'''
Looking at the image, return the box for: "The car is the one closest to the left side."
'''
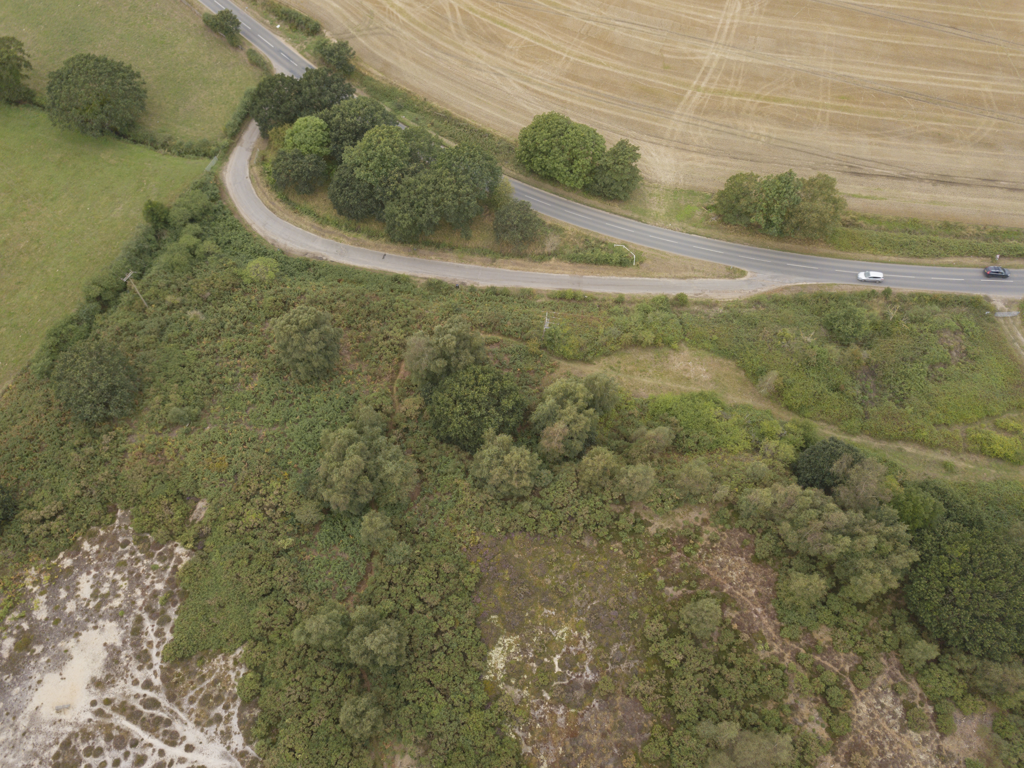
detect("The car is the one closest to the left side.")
[859,270,885,283]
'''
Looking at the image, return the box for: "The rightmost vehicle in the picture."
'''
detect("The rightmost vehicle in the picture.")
[984,266,1011,279]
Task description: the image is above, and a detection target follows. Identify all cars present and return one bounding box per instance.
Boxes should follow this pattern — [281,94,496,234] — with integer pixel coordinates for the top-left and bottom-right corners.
[984,266,1011,279]
[859,270,885,283]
